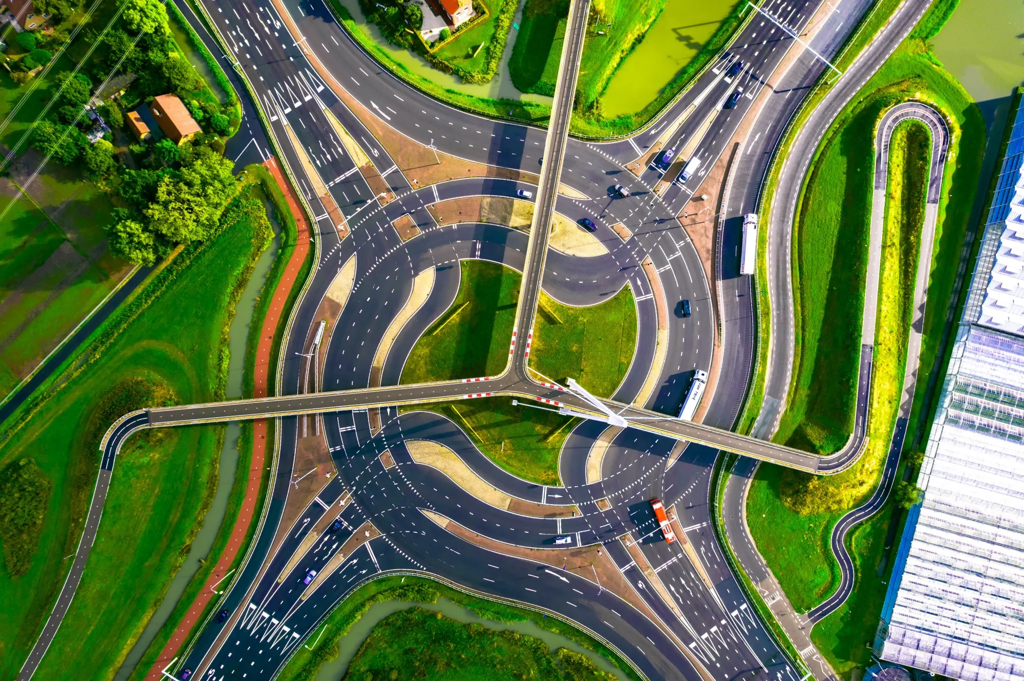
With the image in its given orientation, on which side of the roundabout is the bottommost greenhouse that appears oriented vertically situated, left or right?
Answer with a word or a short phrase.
on the right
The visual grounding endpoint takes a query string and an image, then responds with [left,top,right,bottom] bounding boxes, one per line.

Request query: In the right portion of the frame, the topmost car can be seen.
[728,59,743,77]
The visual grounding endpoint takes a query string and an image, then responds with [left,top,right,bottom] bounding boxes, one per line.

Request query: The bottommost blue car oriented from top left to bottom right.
[581,218,597,231]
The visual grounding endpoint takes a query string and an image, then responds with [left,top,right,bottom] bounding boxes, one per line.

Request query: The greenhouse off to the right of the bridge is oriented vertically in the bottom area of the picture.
[878,323,1024,657]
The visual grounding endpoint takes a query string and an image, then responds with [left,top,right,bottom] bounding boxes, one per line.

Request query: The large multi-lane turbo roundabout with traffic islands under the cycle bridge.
[190,0,861,681]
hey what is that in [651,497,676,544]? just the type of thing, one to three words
bus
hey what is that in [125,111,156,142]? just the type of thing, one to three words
building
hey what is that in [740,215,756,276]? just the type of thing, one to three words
vehicle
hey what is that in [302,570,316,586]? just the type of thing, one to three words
car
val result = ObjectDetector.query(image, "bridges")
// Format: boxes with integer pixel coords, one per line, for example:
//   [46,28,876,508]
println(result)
[147,0,822,474]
